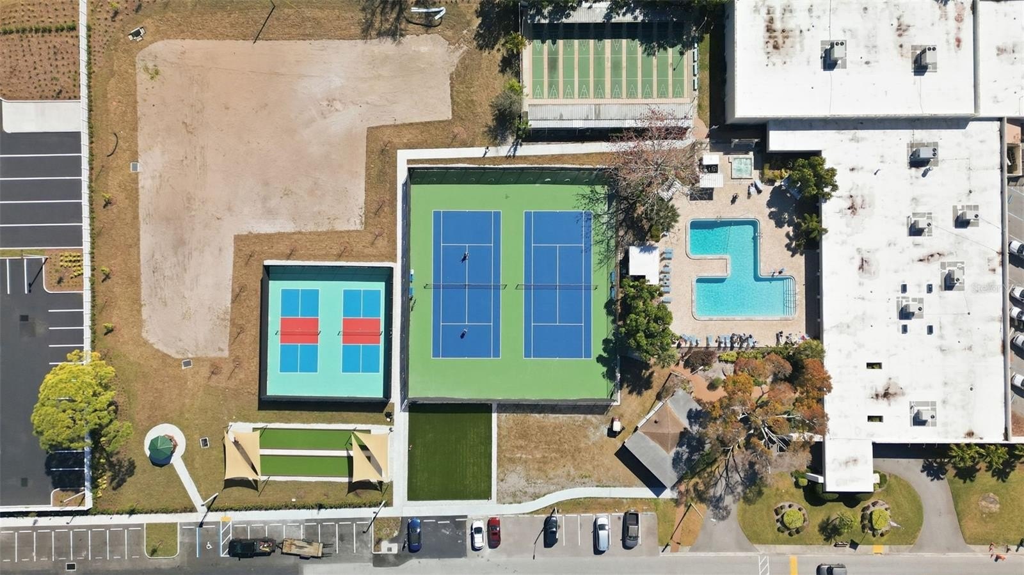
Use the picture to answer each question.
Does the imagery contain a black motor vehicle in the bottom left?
Yes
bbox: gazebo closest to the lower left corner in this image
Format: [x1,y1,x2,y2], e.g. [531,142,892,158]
[148,433,182,462]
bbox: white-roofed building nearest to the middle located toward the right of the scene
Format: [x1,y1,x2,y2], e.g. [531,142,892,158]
[629,247,659,284]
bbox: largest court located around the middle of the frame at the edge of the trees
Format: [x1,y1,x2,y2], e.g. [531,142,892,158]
[409,169,618,399]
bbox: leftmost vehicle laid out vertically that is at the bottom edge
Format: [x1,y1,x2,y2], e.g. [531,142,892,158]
[408,518,422,548]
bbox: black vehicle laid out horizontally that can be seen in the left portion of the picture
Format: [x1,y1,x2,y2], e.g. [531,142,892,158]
[230,539,273,556]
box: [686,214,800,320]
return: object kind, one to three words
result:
swimming pool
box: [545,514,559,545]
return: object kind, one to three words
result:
car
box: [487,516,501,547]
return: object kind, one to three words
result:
car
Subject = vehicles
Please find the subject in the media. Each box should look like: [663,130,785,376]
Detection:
[596,514,610,548]
[1009,335,1024,351]
[230,539,273,556]
[471,519,485,549]
[1010,376,1024,392]
[545,514,559,545]
[487,516,501,547]
[1008,243,1024,259]
[815,563,847,575]
[1009,308,1024,324]
[624,510,640,546]
[408,518,422,548]
[1009,287,1024,303]
[611,416,620,433]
